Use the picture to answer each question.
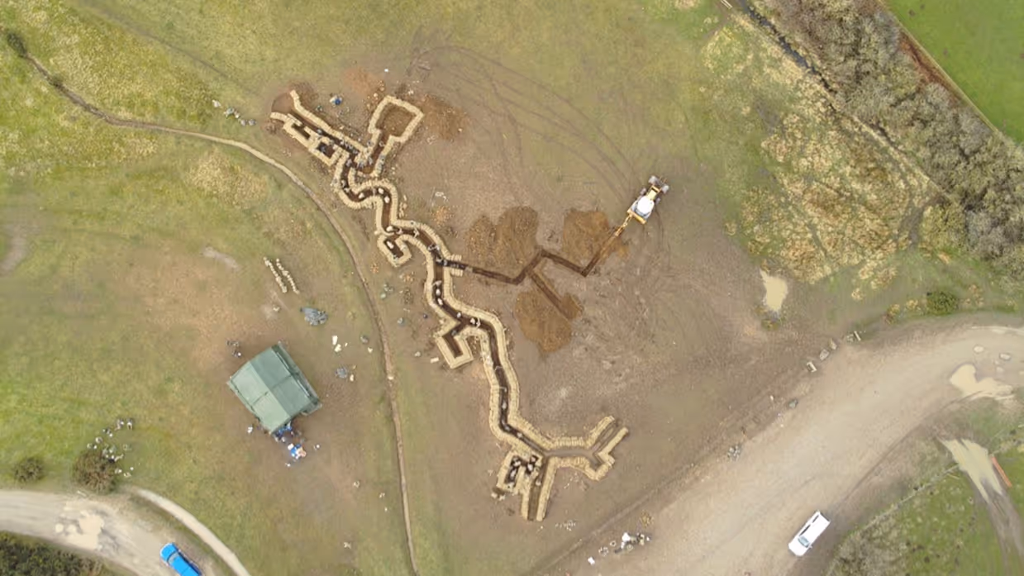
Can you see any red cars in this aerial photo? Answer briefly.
No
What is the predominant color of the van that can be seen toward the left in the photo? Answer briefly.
blue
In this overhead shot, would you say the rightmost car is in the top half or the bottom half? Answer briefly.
bottom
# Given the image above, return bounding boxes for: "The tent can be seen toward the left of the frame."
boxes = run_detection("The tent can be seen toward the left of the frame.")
[227,336,327,434]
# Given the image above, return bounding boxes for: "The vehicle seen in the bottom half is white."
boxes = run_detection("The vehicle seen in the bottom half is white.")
[786,508,830,554]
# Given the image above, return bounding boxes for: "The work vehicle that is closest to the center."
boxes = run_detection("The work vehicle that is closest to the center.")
[610,174,671,243]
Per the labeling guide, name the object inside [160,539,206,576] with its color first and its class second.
blue van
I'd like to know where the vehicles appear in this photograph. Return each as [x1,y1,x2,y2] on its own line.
[610,174,671,243]
[160,539,206,576]
[786,508,830,554]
